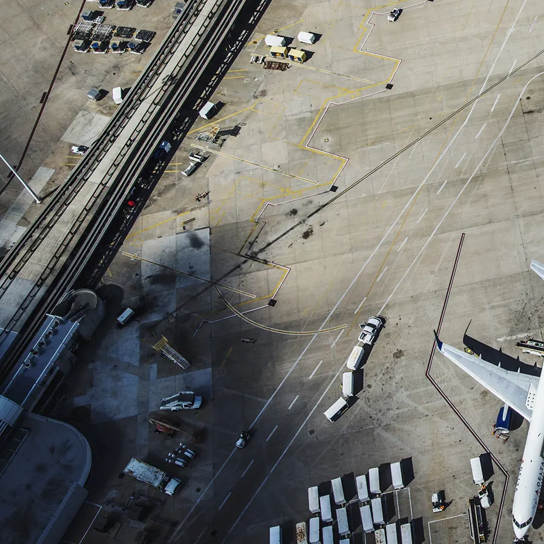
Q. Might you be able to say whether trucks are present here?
Yes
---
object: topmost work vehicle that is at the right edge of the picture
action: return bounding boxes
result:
[513,338,544,359]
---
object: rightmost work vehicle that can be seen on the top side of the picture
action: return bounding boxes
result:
[388,10,402,22]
